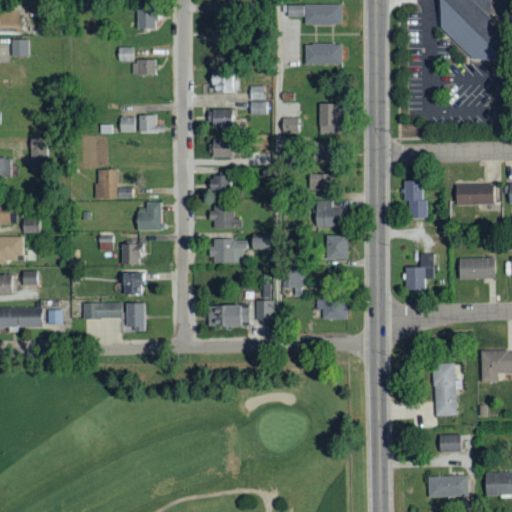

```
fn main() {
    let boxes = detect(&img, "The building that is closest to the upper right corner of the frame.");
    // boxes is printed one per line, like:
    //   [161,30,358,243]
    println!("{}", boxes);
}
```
[444,0,492,64]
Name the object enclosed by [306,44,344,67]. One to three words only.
building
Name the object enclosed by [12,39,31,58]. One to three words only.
building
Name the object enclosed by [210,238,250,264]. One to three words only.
house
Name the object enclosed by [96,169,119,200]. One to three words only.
house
